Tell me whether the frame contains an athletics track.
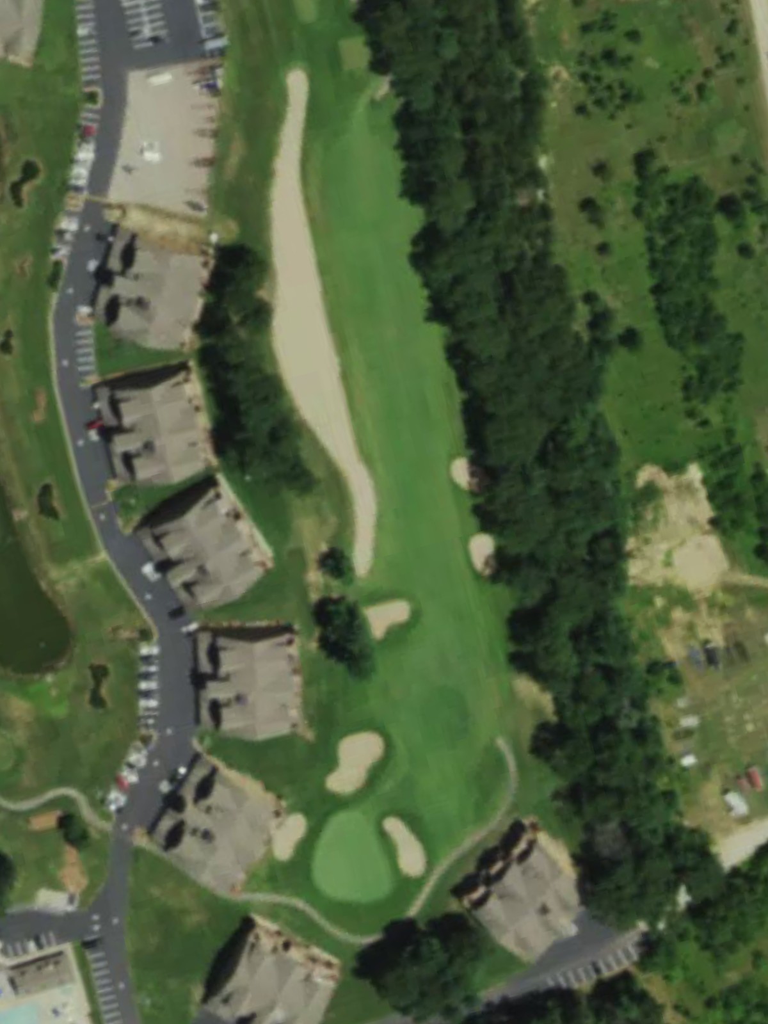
No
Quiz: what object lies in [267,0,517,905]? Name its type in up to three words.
golf course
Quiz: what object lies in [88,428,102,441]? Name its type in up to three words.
vehicle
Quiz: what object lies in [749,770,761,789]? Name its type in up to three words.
vehicle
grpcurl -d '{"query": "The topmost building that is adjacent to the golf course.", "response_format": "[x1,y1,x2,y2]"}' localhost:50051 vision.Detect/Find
[94,233,217,338]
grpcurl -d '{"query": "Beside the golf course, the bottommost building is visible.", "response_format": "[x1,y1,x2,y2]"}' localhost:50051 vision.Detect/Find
[204,924,340,1024]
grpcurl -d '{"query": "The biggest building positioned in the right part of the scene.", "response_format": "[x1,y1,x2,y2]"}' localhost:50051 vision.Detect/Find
[459,835,593,968]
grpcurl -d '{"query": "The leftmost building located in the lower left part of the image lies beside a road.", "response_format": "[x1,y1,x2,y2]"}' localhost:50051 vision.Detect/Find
[9,952,77,1003]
